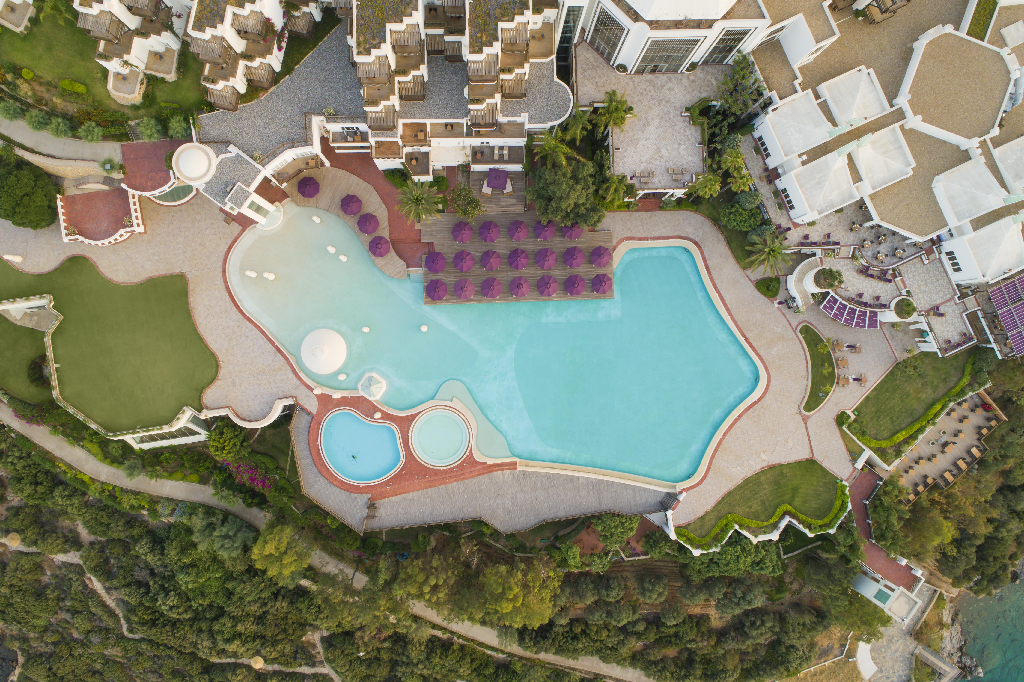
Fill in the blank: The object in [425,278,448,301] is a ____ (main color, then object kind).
purple umbrella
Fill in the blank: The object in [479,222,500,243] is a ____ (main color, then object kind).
purple umbrella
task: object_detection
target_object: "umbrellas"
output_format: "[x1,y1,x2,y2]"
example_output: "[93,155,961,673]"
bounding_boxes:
[562,222,583,242]
[564,274,587,297]
[480,277,502,299]
[369,235,392,257]
[452,222,473,243]
[507,248,530,270]
[479,248,502,271]
[590,245,612,268]
[454,278,476,301]
[425,278,448,301]
[358,213,380,235]
[590,272,612,295]
[509,276,532,299]
[452,250,474,272]
[487,169,508,191]
[849,375,864,383]
[340,194,363,217]
[535,248,557,270]
[424,252,447,274]
[774,300,788,307]
[537,275,559,297]
[298,176,320,198]
[479,222,500,243]
[508,219,530,241]
[563,246,585,268]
